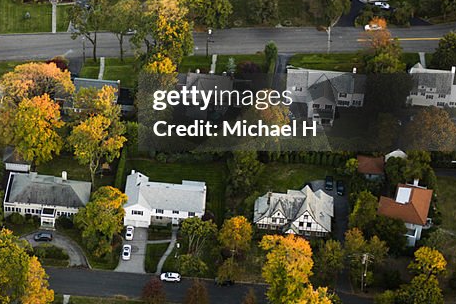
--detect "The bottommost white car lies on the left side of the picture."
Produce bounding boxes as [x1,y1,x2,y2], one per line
[160,270,181,282]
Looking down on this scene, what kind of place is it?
residential area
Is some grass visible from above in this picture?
Yes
